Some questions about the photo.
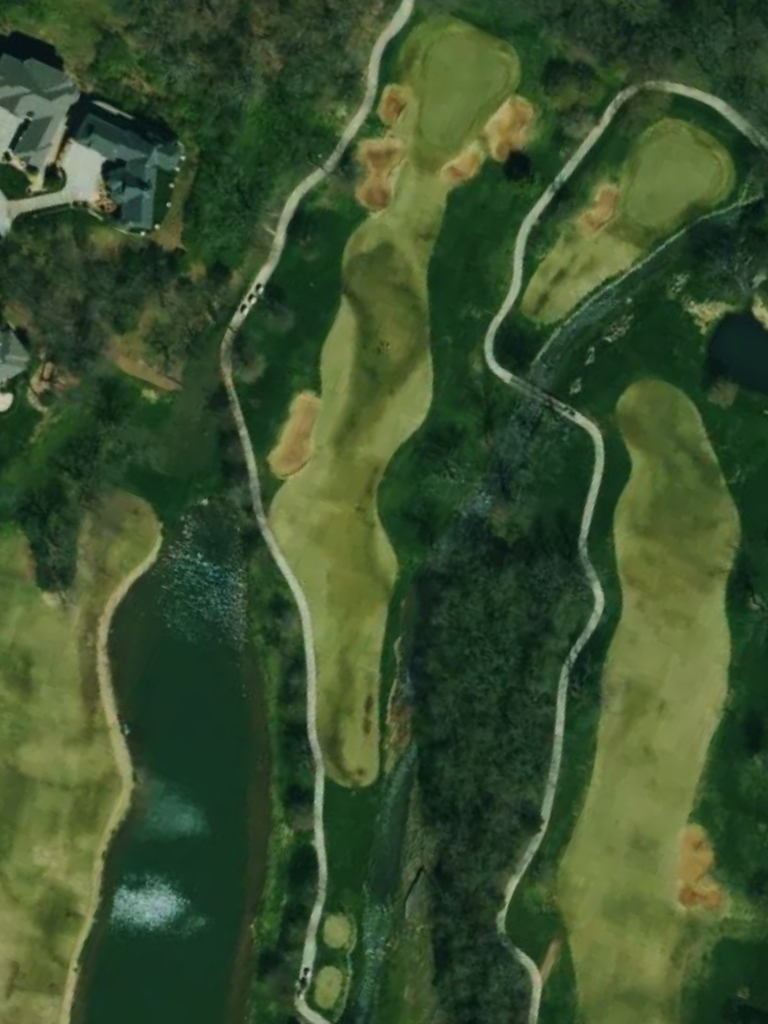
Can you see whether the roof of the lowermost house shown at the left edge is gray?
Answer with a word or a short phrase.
Yes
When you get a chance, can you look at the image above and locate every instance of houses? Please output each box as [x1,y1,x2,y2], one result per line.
[0,331,29,391]
[0,48,87,169]
[76,100,185,229]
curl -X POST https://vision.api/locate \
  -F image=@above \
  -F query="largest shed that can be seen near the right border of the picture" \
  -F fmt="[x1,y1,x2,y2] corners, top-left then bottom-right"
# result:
[710,379,736,405]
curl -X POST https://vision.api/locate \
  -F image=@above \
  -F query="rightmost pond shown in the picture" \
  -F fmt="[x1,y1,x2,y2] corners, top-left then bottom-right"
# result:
[705,308,768,393]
